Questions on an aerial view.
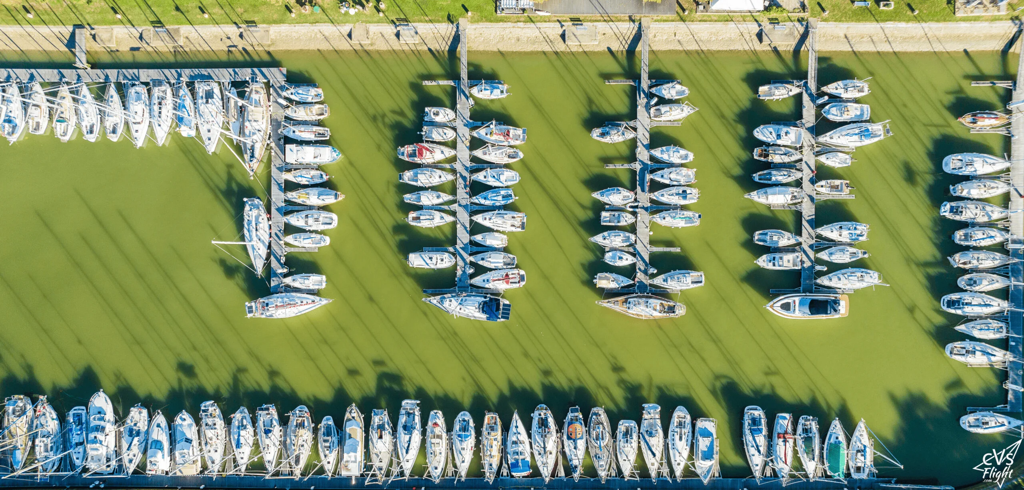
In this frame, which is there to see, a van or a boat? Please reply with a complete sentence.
Visible in the photo is a boat.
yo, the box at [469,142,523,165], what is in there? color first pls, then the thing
white boat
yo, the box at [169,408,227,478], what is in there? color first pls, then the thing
white boat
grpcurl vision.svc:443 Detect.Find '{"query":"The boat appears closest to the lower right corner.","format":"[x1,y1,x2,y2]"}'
[958,410,1024,441]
